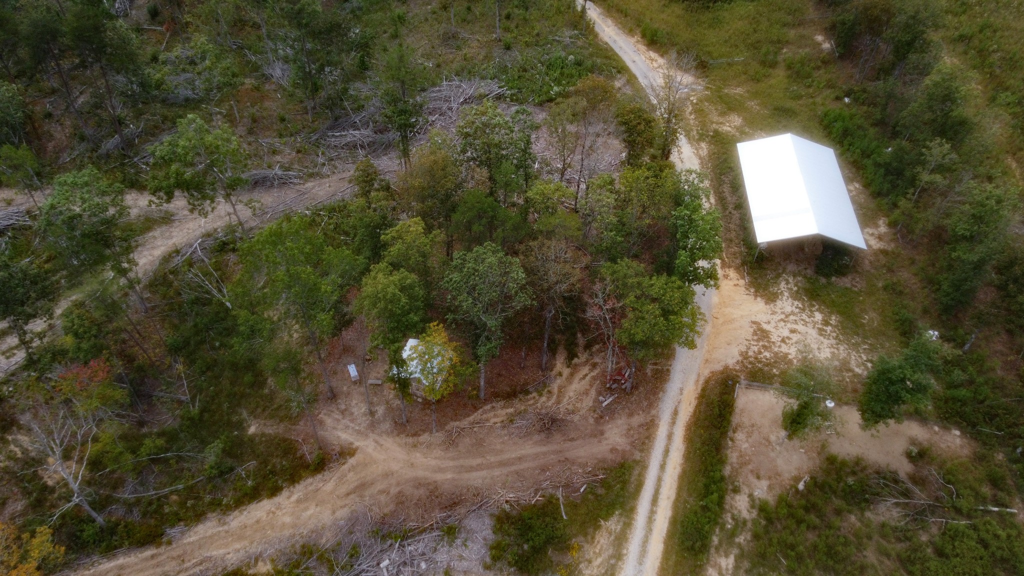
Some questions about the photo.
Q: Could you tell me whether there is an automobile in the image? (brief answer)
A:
No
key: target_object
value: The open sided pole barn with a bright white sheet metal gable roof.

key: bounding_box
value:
[736,134,869,268]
